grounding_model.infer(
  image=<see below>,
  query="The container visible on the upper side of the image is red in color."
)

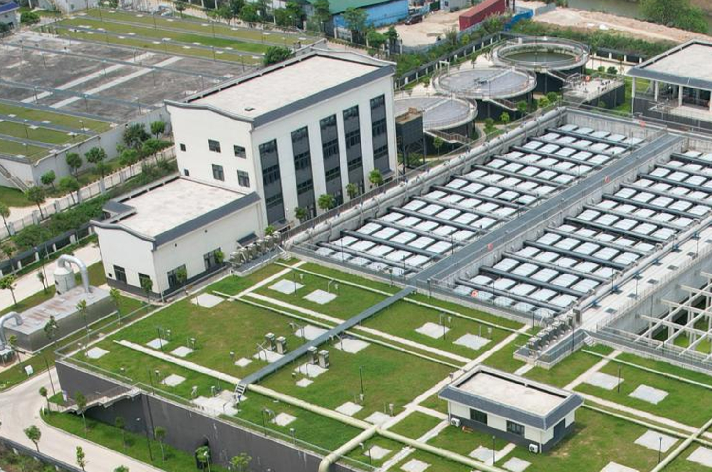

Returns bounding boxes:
[459,0,511,28]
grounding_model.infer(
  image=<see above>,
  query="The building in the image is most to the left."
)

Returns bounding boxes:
[0,4,20,32]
